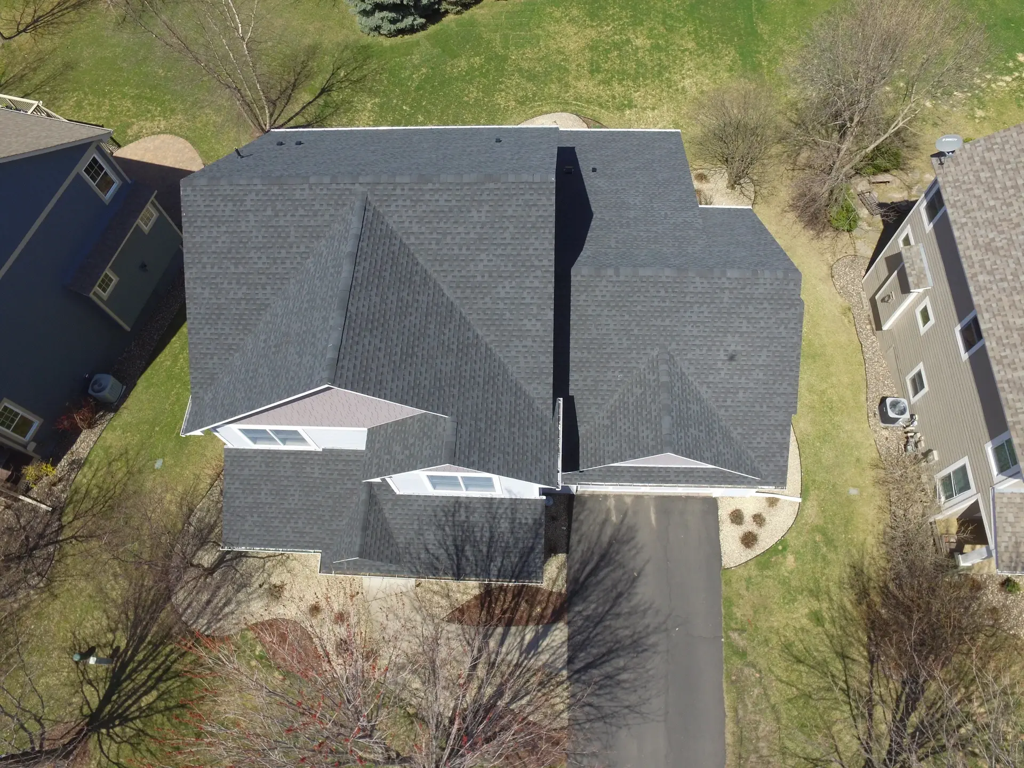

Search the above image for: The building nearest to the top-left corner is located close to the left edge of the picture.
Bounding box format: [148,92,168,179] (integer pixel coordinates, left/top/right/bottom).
[0,101,182,455]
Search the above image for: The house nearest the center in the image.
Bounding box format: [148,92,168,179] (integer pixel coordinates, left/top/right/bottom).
[176,128,805,585]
